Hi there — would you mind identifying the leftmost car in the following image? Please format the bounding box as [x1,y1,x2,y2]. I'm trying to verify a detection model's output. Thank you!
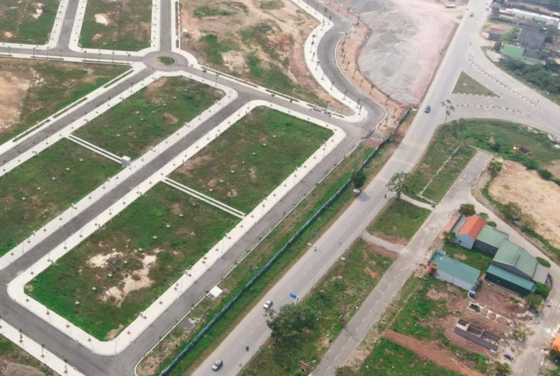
[210,354,225,372]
